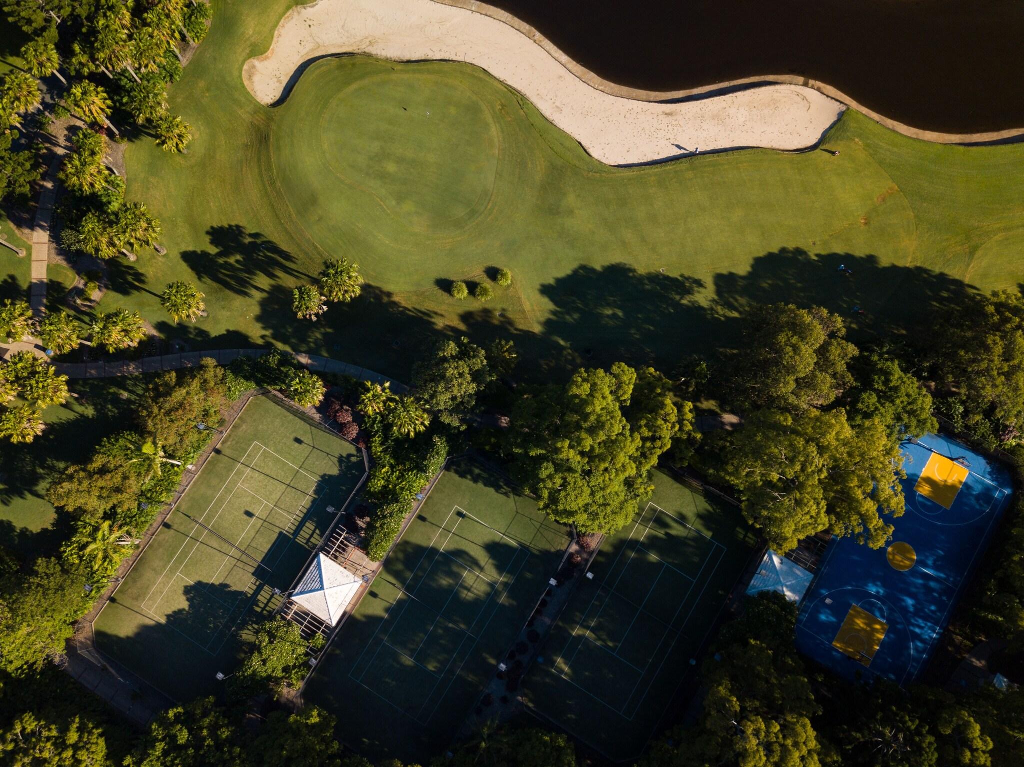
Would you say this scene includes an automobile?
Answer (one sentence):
No, there's no automobile here.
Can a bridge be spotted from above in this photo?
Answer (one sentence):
No, there's no bridge here.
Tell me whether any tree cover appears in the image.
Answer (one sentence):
Yes, tree cover can be seen from above here.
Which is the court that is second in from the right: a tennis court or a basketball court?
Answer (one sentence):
It looks like the court that is second in from the right is a tennis court.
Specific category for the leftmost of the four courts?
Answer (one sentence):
The leftmost of the four courts appears to be a tennis court.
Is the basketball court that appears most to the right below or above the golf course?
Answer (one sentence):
The basketball court that appears most to the right is located below the golf course in this view.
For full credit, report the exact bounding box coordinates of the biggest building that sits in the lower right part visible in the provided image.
[742,549,815,608]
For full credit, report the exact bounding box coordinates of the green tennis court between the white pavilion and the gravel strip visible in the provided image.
[301,456,577,767]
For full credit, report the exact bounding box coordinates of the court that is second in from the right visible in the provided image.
[521,468,756,764]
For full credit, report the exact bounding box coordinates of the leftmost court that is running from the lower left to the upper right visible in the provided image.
[92,391,368,706]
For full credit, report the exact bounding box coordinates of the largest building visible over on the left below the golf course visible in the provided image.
[289,552,363,627]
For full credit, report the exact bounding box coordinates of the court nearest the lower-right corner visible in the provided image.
[798,424,1015,703]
